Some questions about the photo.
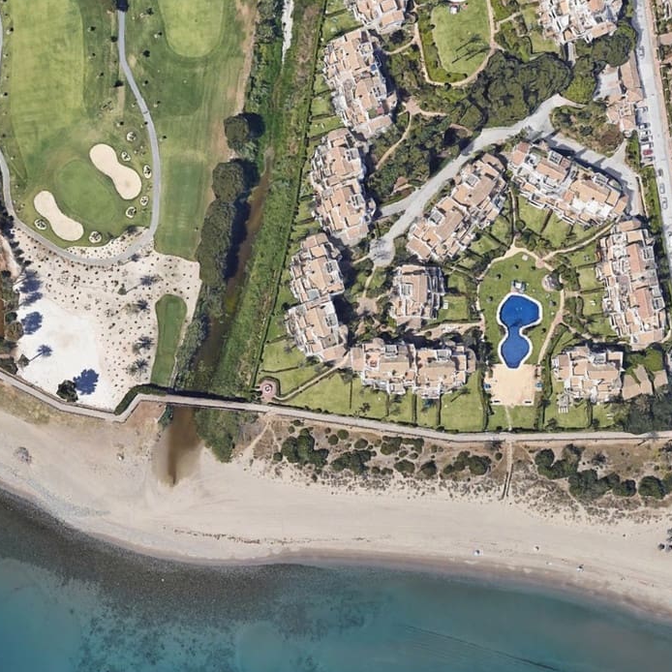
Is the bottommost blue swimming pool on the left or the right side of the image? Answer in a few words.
right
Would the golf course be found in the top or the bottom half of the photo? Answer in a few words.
top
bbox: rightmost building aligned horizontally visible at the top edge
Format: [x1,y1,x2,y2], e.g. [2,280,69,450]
[538,0,629,45]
